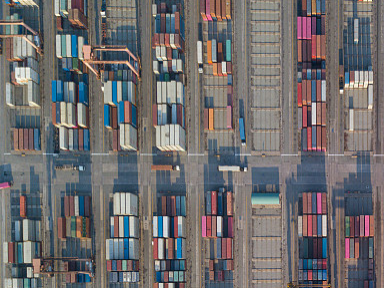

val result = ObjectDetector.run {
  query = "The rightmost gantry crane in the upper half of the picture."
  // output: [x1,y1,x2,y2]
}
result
[80,46,146,77]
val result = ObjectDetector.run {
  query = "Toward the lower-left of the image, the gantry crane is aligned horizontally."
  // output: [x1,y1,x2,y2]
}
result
[28,256,99,277]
